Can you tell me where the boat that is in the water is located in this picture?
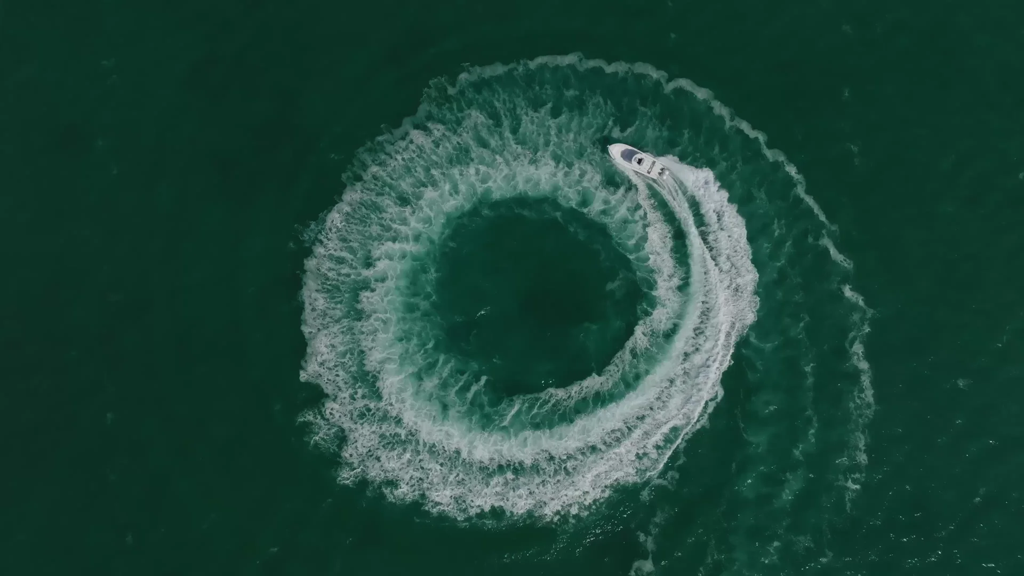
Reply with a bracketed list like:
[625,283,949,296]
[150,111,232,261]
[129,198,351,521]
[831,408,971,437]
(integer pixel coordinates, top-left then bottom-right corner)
[606,143,664,181]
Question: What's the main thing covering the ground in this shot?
water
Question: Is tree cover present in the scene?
No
